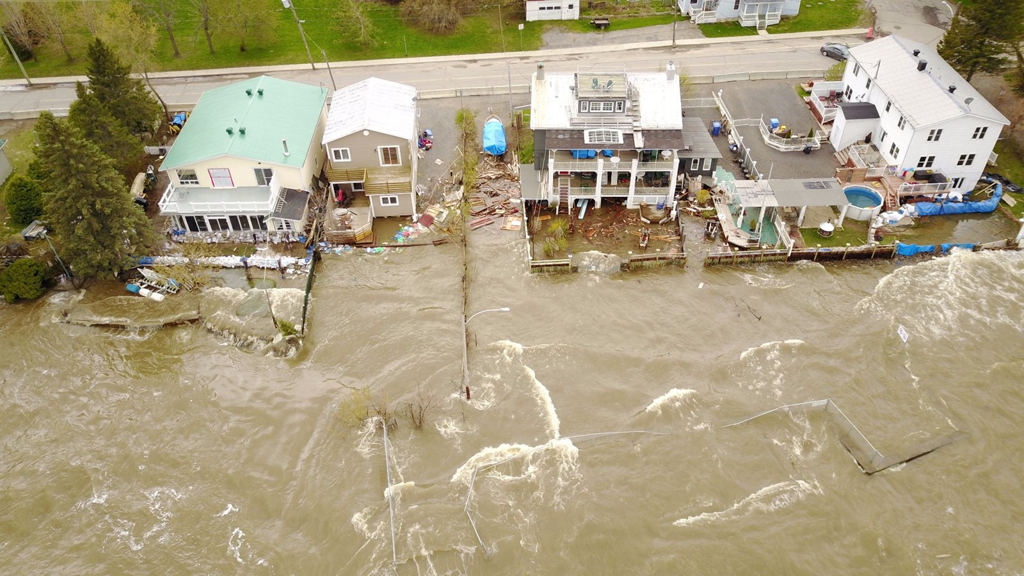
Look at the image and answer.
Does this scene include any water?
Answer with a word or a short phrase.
Yes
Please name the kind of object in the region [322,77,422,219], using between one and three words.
house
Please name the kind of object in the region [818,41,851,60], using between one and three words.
car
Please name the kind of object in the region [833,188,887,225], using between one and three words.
swimming pool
